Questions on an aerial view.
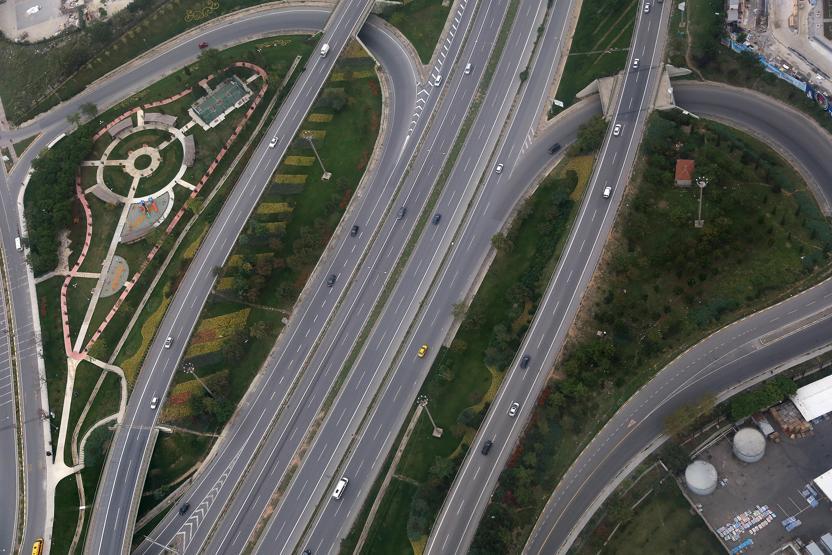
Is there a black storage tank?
No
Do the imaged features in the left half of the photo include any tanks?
No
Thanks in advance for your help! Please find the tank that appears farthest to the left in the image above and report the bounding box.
[685,460,718,496]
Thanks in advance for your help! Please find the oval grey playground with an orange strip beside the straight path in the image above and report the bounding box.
[100,255,128,297]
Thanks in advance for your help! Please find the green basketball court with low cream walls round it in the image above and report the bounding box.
[193,77,249,124]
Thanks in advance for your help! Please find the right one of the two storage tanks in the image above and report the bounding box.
[732,427,766,465]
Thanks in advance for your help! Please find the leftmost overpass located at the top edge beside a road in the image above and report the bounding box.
[311,0,404,67]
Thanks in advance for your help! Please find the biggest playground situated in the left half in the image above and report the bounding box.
[120,192,170,244]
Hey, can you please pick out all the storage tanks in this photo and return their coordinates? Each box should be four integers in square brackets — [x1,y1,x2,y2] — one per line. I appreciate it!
[685,460,718,496]
[732,427,766,465]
